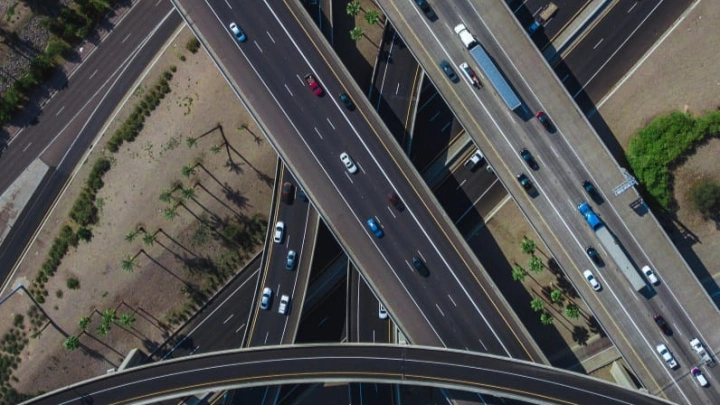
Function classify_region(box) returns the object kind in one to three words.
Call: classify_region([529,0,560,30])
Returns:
truck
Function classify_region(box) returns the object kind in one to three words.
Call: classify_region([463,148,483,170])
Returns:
vehicle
